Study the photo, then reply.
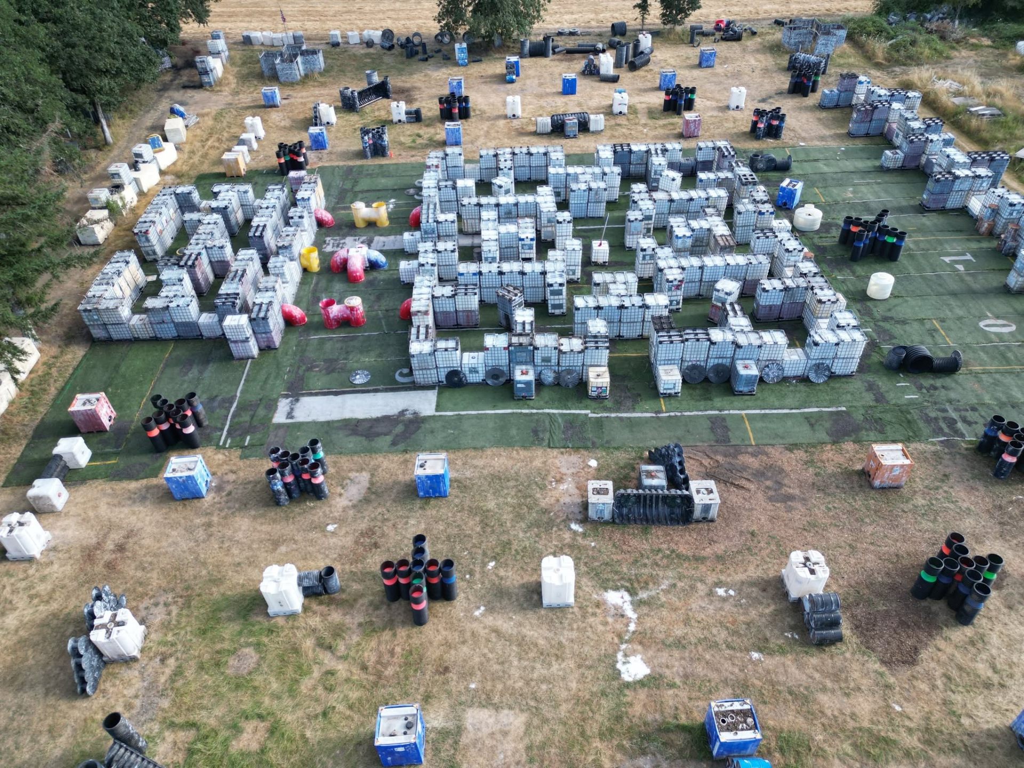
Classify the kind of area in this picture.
industrial area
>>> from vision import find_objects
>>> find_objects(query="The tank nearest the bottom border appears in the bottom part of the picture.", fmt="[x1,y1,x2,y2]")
[96,614,146,663]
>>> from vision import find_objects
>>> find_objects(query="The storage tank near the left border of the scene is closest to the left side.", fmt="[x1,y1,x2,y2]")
[0,518,48,560]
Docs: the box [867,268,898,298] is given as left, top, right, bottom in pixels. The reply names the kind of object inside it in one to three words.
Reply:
water tank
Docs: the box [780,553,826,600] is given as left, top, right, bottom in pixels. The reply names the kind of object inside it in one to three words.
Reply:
storage tank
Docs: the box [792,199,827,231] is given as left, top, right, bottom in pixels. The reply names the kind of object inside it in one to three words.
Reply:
water tank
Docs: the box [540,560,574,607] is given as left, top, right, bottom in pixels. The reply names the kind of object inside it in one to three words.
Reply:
storage tank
